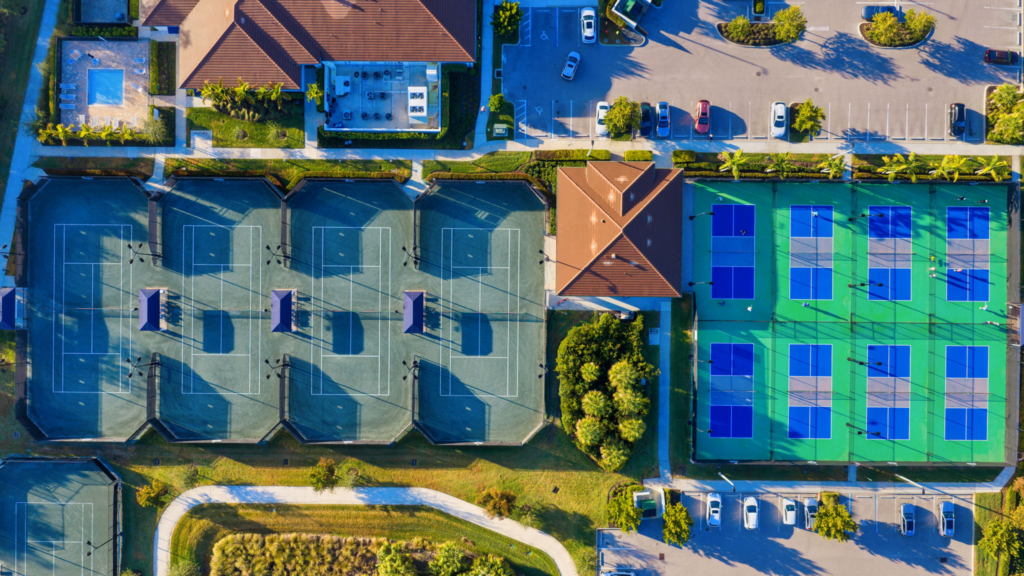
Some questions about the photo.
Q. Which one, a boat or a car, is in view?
car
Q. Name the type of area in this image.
sports ground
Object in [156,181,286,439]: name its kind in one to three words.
tennis court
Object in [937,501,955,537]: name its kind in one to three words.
car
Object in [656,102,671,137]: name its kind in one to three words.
car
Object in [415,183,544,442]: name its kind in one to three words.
tennis court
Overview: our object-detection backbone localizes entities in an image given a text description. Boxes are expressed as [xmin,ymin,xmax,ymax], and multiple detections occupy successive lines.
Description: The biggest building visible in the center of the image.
[555,161,683,297]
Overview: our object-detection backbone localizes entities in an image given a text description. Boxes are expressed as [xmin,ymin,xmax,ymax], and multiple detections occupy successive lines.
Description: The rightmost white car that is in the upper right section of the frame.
[770,101,787,138]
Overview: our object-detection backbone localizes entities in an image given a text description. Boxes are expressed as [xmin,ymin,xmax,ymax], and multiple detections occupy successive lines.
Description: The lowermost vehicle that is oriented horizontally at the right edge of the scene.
[983,48,1018,64]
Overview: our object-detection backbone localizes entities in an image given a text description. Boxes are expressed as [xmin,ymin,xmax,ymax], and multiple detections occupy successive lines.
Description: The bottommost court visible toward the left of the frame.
[0,459,116,576]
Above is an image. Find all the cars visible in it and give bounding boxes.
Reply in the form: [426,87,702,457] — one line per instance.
[937,501,955,537]
[695,99,711,134]
[983,48,1018,64]
[638,102,654,137]
[595,101,611,136]
[948,103,966,137]
[706,492,723,527]
[656,102,671,137]
[860,4,897,21]
[897,502,915,537]
[561,49,580,82]
[743,496,760,531]
[770,101,787,138]
[781,497,797,525]
[802,497,820,531]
